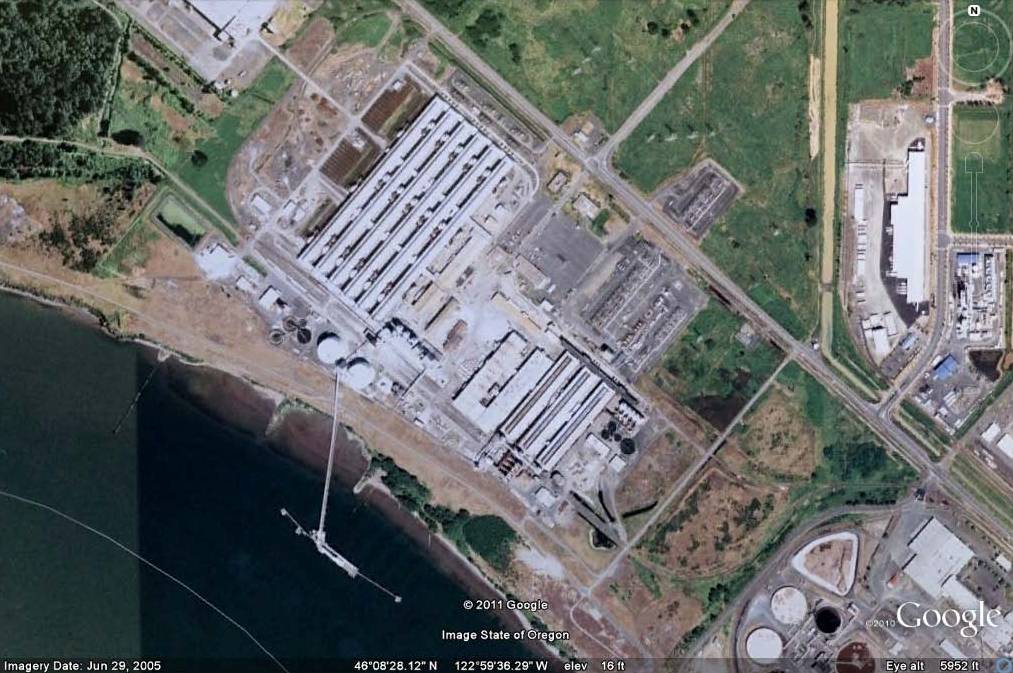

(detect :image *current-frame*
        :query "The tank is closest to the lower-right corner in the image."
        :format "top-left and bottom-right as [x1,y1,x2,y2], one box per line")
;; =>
[835,640,875,673]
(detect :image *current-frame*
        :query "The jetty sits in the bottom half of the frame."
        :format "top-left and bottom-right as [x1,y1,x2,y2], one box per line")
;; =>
[284,371,397,598]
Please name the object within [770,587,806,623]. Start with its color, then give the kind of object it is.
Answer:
white storage tank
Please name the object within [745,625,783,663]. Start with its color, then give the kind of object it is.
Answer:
white storage tank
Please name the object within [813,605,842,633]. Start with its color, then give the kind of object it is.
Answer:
black storage tank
